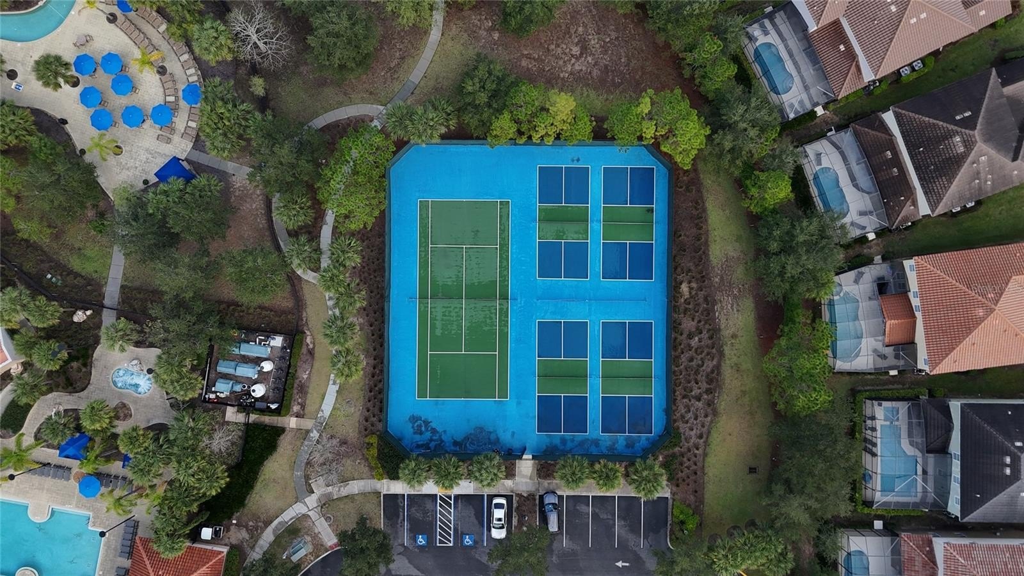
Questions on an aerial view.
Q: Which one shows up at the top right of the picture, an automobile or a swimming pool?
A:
swimming pool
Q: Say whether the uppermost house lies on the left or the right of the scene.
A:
right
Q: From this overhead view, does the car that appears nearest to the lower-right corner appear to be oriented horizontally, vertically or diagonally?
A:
vertically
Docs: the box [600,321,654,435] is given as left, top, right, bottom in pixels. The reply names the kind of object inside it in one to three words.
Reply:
sports court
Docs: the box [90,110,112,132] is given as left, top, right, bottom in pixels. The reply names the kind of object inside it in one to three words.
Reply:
umbrella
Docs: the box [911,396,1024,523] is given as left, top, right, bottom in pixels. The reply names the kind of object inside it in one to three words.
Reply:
house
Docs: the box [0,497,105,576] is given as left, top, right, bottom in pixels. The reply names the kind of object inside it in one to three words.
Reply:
swimming pool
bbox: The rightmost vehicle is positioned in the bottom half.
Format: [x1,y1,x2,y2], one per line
[541,493,561,535]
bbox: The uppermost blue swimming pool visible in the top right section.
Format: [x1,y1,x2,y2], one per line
[755,40,796,97]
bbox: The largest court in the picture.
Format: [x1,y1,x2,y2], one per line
[387,145,668,456]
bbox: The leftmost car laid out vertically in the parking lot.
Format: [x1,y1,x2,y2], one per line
[489,498,508,540]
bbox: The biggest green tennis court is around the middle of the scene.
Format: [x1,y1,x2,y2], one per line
[416,200,510,400]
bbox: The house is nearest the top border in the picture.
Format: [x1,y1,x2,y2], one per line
[795,0,1012,101]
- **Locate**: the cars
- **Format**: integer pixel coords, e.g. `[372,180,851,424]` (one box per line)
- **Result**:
[541,493,561,535]
[489,498,508,540]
